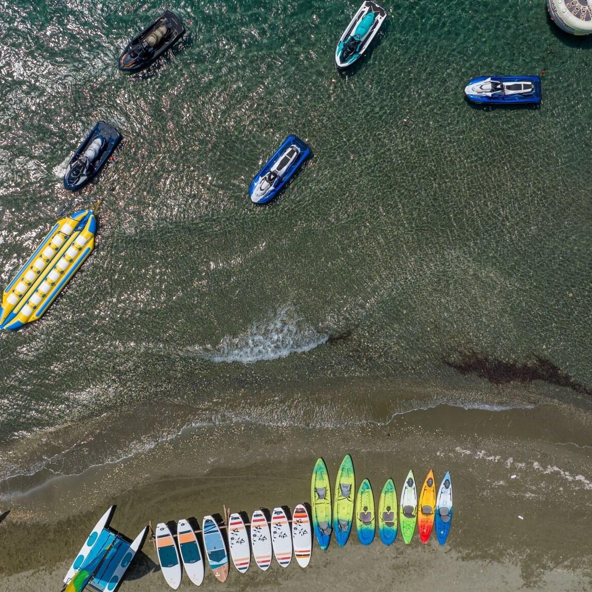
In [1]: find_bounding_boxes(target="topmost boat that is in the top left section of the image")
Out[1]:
[119,13,183,71]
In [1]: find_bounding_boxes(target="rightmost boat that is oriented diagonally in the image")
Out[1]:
[335,3,385,70]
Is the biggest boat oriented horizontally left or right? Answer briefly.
right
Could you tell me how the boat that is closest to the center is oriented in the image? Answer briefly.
diagonally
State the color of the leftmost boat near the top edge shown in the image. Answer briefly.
black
